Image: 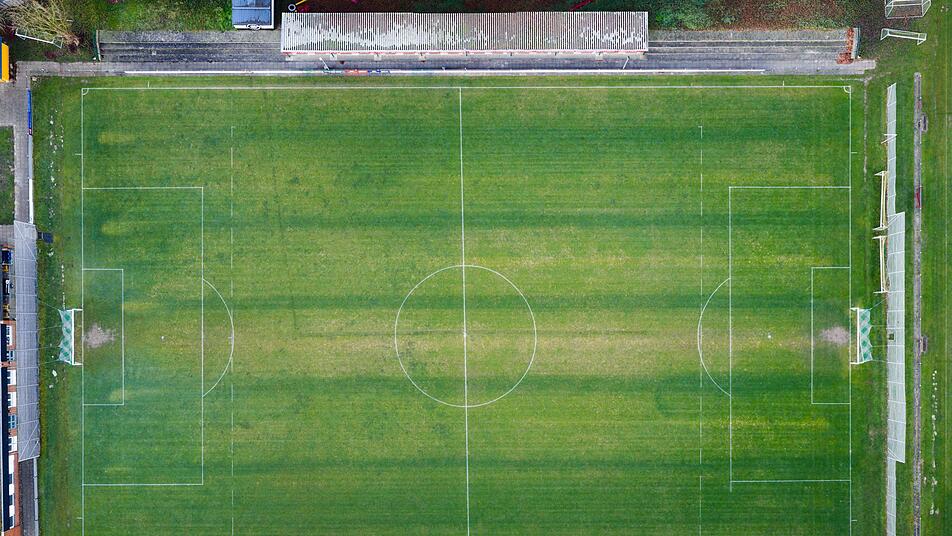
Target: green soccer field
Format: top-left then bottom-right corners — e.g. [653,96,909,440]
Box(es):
[64,80,866,536]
